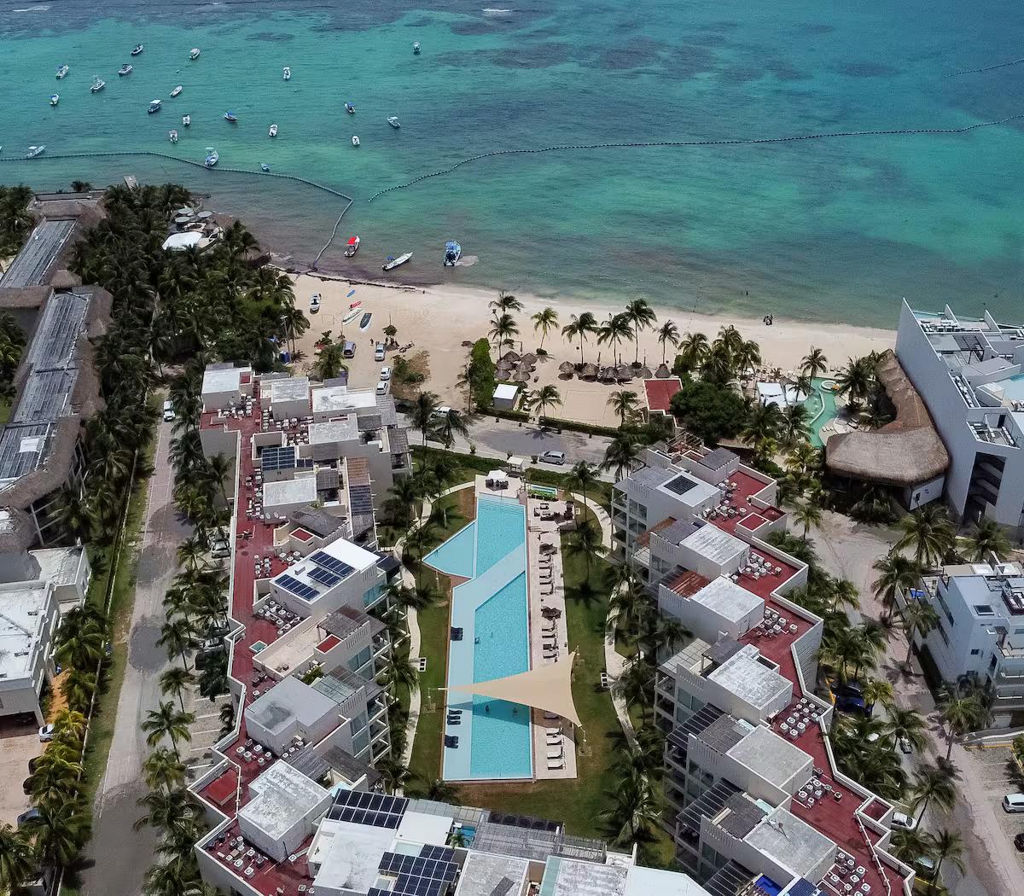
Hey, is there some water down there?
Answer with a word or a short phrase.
Yes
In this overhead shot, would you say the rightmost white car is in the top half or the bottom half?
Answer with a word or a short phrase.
bottom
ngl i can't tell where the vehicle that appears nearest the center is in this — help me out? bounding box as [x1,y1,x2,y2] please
[537,447,567,461]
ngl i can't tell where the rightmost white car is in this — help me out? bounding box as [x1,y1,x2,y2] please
[1002,789,1024,811]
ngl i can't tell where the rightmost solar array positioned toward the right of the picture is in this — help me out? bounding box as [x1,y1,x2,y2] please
[665,476,698,495]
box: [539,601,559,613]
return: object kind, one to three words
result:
umbrella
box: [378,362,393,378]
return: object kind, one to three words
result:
car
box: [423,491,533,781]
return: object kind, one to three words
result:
swimming pool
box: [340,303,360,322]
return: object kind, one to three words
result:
boat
